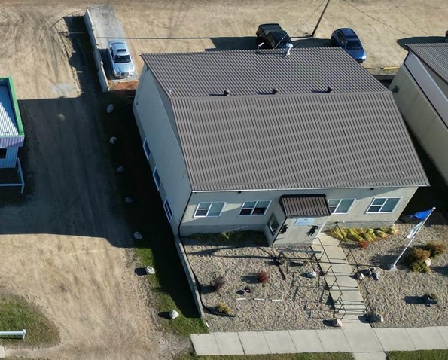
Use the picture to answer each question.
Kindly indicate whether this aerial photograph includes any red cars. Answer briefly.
No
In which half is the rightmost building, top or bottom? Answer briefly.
top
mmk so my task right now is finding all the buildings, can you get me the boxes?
[126,48,428,249]
[389,42,448,179]
[0,79,26,168]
